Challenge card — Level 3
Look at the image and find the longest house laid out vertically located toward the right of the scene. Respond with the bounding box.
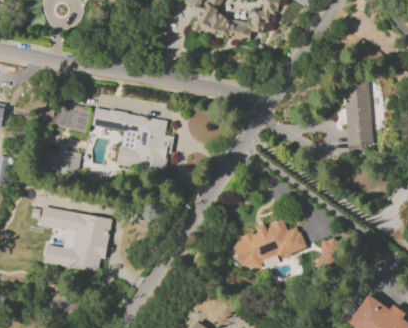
[348,84,374,150]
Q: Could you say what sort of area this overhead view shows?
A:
residential area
